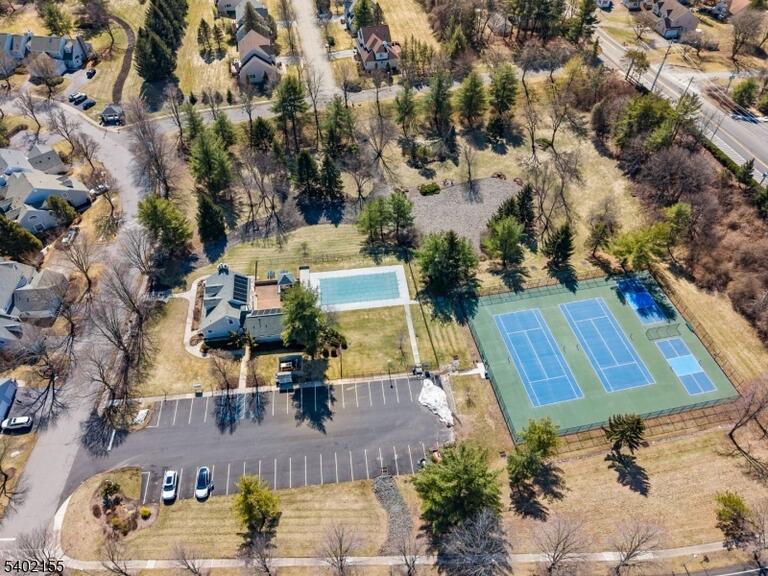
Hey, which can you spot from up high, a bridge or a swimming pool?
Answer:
swimming pool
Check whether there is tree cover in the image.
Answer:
Yes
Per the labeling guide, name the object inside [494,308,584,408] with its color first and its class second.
blue tennis court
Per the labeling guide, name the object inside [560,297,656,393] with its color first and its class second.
blue tennis court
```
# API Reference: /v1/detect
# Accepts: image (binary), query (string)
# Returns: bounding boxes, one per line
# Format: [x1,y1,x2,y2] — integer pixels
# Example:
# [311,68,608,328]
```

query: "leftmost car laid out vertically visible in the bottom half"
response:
[161,472,176,500]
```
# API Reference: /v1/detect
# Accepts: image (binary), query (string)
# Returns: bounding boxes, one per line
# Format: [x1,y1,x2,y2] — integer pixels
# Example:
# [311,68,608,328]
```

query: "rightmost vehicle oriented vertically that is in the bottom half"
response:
[195,470,209,497]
